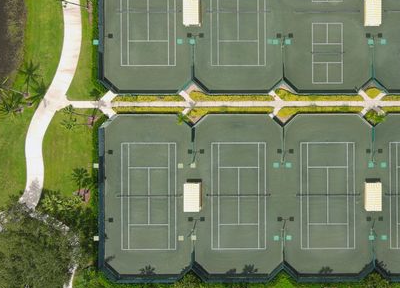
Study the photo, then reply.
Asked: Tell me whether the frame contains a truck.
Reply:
No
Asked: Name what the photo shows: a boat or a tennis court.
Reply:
tennis court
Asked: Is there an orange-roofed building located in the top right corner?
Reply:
No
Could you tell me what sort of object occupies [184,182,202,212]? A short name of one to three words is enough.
building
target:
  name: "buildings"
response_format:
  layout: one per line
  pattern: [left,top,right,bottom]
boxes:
[364,181,381,211]
[365,0,381,27]
[184,0,201,26]
[184,182,202,212]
